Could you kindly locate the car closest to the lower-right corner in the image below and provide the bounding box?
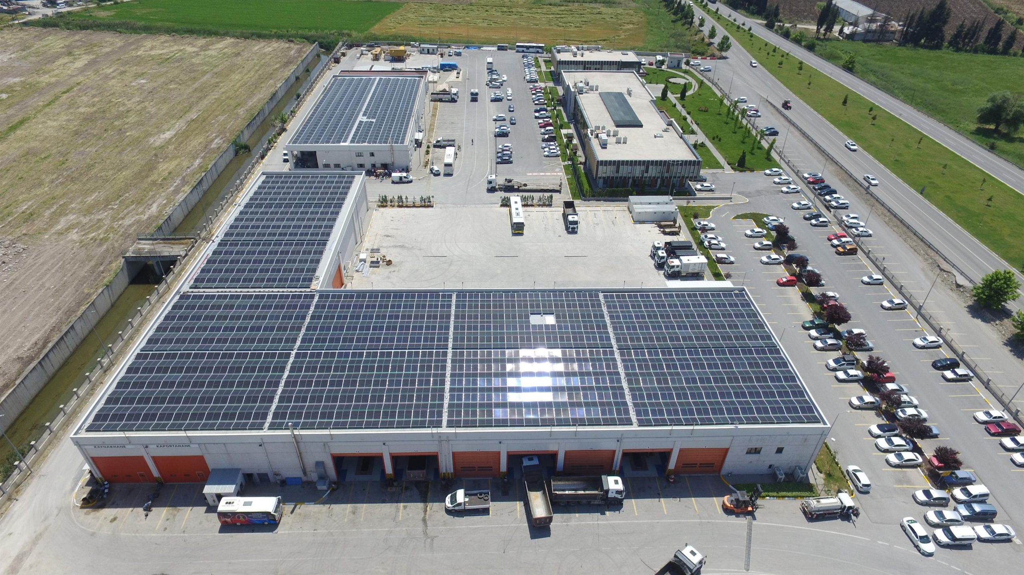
[973,524,1017,543]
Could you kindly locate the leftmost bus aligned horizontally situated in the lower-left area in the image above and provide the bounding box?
[208,498,286,531]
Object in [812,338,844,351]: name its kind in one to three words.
vehicle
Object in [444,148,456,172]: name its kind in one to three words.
vehicle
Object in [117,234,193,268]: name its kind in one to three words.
bridge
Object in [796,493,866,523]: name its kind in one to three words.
truck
